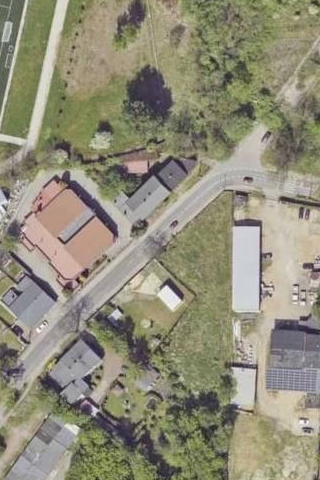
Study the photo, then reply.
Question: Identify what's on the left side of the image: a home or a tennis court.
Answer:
home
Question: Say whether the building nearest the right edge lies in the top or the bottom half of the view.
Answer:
bottom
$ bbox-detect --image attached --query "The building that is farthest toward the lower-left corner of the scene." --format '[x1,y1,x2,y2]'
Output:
[6,415,80,480]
